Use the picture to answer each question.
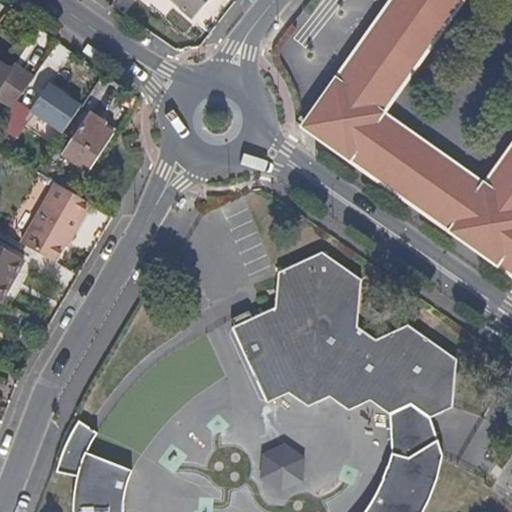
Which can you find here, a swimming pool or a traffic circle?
traffic circle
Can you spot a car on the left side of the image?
Yes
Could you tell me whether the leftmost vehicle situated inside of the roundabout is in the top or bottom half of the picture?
top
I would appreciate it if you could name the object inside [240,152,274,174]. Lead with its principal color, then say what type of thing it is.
white truck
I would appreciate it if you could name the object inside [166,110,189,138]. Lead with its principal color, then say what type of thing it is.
white vehicle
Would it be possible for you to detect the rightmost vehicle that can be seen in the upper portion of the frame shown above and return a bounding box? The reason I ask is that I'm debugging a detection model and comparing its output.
[353,194,376,214]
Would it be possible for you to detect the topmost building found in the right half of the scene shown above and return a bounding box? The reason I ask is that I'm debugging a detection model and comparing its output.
[302,0,512,278]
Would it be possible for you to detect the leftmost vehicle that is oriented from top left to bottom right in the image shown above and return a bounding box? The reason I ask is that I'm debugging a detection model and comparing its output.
[58,62,74,82]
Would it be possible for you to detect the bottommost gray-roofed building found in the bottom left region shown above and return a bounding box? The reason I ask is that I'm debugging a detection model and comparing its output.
[74,452,131,512]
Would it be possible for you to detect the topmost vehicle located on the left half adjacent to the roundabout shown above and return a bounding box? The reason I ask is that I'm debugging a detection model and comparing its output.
[130,64,150,82]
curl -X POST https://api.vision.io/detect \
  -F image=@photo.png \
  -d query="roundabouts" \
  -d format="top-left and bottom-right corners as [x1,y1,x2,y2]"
[147,46,290,188]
